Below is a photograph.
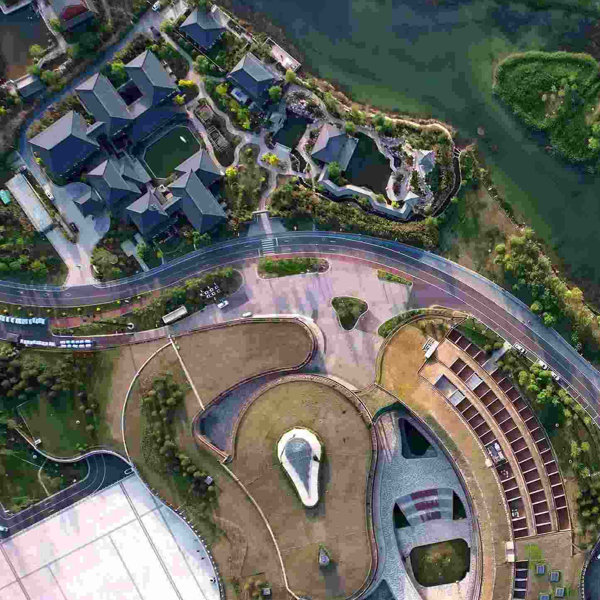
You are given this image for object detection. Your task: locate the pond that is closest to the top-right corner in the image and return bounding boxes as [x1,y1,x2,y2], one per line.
[344,134,391,194]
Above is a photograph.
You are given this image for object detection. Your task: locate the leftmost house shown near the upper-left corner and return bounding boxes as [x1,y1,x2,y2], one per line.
[16,72,50,98]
